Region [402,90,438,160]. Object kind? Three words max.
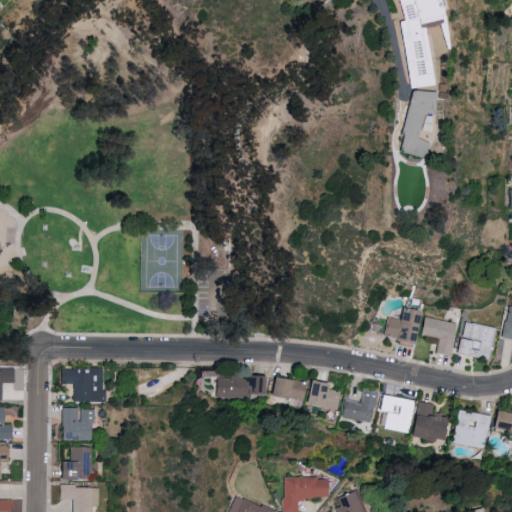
building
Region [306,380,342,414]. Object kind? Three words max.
house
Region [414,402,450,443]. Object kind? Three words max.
house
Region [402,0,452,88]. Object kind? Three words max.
building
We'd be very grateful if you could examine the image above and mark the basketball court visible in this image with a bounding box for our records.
[141,230,184,292]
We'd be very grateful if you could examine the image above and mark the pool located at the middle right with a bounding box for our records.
[380,298,404,316]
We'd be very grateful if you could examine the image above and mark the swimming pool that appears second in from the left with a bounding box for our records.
[454,446,475,458]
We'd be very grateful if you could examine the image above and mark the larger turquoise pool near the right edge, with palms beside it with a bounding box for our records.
[490,436,508,456]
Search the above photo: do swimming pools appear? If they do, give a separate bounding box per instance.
[490,436,508,456]
[380,298,404,316]
[454,446,475,458]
